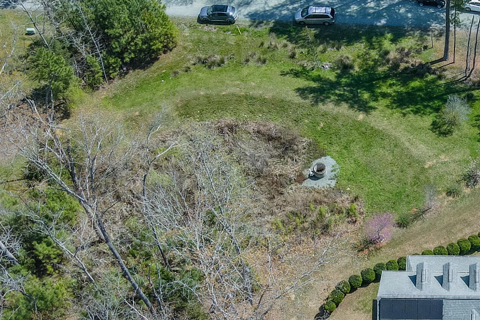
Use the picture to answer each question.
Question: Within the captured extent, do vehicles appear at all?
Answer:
Yes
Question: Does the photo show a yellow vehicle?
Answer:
No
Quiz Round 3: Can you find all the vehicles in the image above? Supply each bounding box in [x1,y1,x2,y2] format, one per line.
[461,0,480,13]
[293,2,336,24]
[414,0,442,8]
[197,4,238,24]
